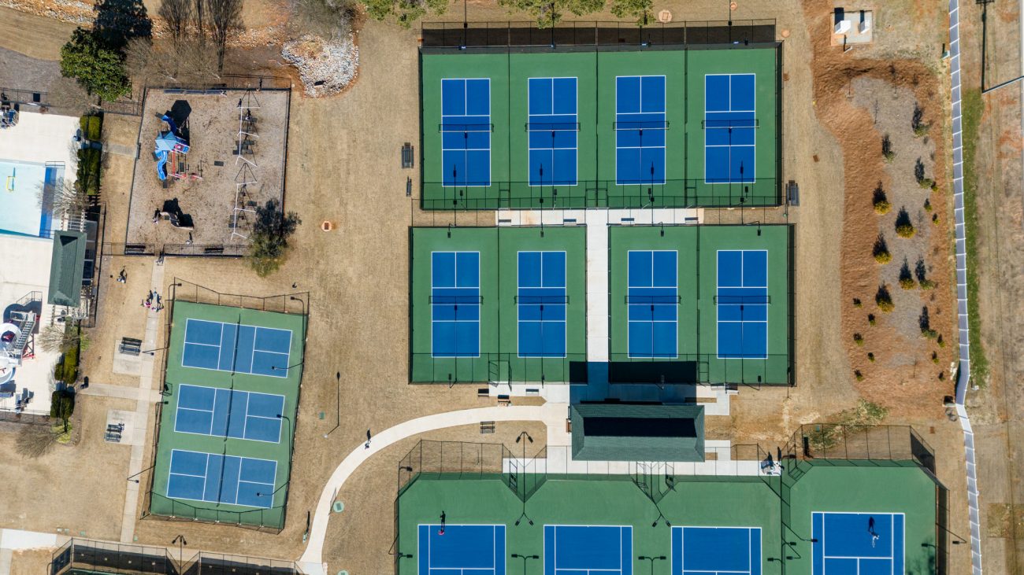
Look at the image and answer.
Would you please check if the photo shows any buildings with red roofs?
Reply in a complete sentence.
No, this view has no building with a red roof in it.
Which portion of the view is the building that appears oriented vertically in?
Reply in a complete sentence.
You can find the building that appears oriented vertically in the left area of the picture.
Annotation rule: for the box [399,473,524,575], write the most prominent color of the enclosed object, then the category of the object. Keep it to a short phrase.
green tennis court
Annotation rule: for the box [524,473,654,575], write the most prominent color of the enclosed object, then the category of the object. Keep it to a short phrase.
green tennis court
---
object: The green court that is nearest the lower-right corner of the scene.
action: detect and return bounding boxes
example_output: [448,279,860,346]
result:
[782,460,936,575]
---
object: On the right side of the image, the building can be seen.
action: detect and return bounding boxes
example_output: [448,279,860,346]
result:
[571,400,705,462]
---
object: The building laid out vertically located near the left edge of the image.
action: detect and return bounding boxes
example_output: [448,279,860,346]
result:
[48,208,102,327]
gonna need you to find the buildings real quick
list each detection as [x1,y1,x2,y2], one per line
[48,208,102,327]
[571,400,705,462]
